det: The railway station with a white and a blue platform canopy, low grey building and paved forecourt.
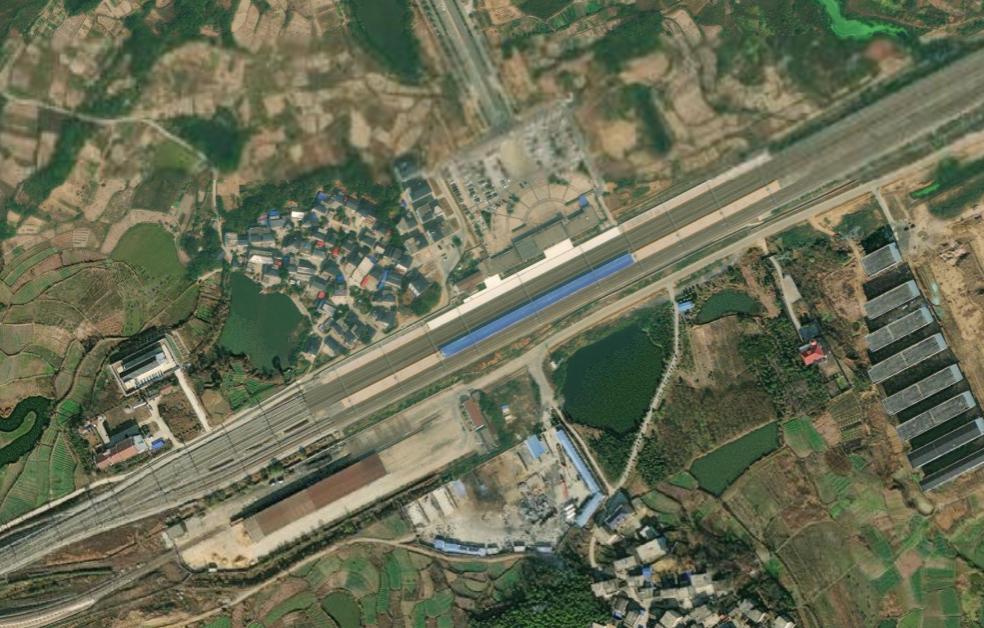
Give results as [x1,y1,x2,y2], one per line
[279,154,784,406]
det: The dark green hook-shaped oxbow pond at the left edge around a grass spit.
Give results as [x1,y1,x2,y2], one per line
[0,397,53,470]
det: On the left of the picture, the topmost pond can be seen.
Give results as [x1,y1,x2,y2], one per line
[356,0,417,83]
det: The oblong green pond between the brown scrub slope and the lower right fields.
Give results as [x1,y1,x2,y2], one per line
[688,422,778,497]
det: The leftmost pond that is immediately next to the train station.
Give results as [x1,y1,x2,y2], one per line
[219,272,307,374]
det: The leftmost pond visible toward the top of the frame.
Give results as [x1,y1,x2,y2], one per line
[111,223,184,279]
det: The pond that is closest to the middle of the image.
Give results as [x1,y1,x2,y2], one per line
[563,322,665,433]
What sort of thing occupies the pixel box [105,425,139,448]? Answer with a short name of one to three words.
shed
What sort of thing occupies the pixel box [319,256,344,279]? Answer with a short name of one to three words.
house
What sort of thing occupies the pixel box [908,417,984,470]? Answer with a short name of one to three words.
shed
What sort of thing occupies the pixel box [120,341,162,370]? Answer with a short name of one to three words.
building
